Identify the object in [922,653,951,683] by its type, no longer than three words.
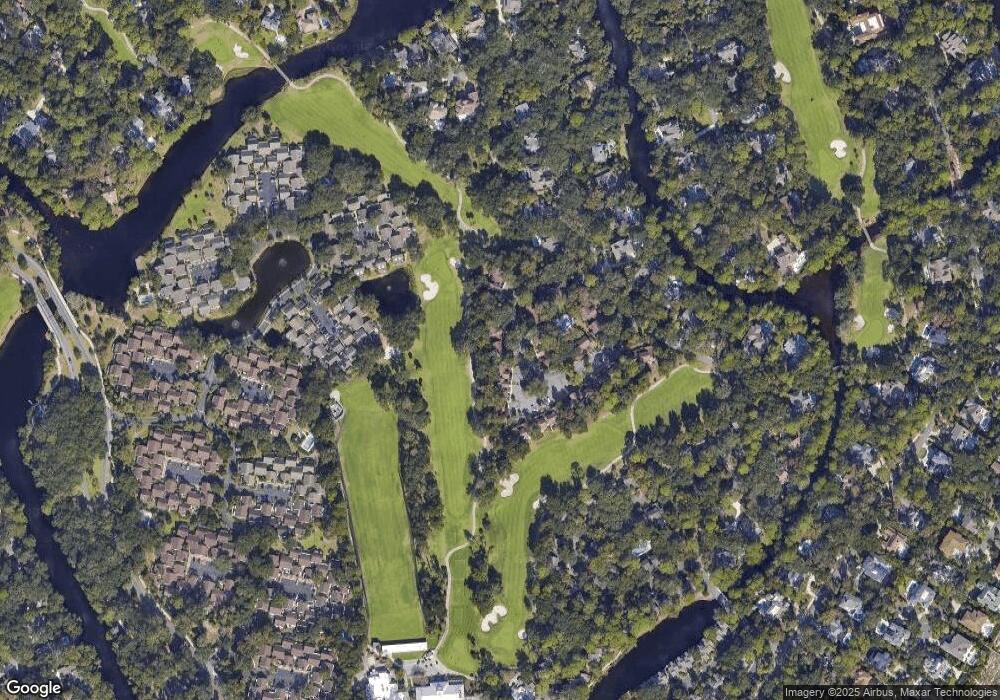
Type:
house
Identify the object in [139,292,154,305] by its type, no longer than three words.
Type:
swimming pool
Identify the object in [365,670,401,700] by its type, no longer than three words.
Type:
building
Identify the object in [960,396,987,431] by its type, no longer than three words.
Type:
house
